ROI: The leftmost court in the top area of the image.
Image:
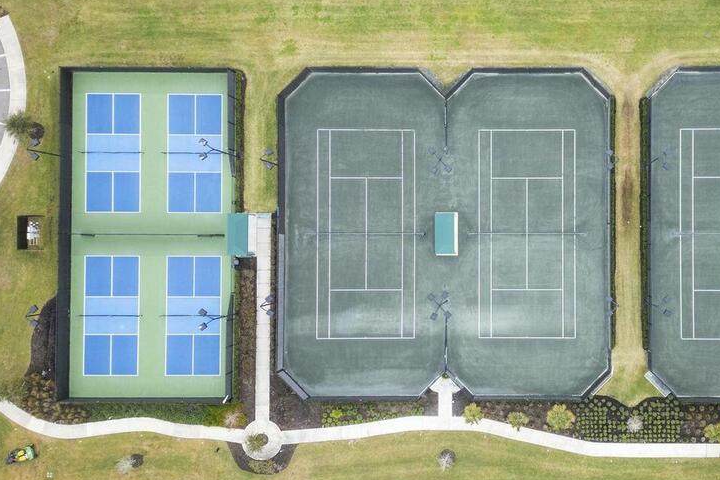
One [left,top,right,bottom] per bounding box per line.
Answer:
[70,71,154,234]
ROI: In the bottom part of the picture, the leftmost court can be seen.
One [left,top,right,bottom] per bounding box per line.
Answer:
[68,235,154,398]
